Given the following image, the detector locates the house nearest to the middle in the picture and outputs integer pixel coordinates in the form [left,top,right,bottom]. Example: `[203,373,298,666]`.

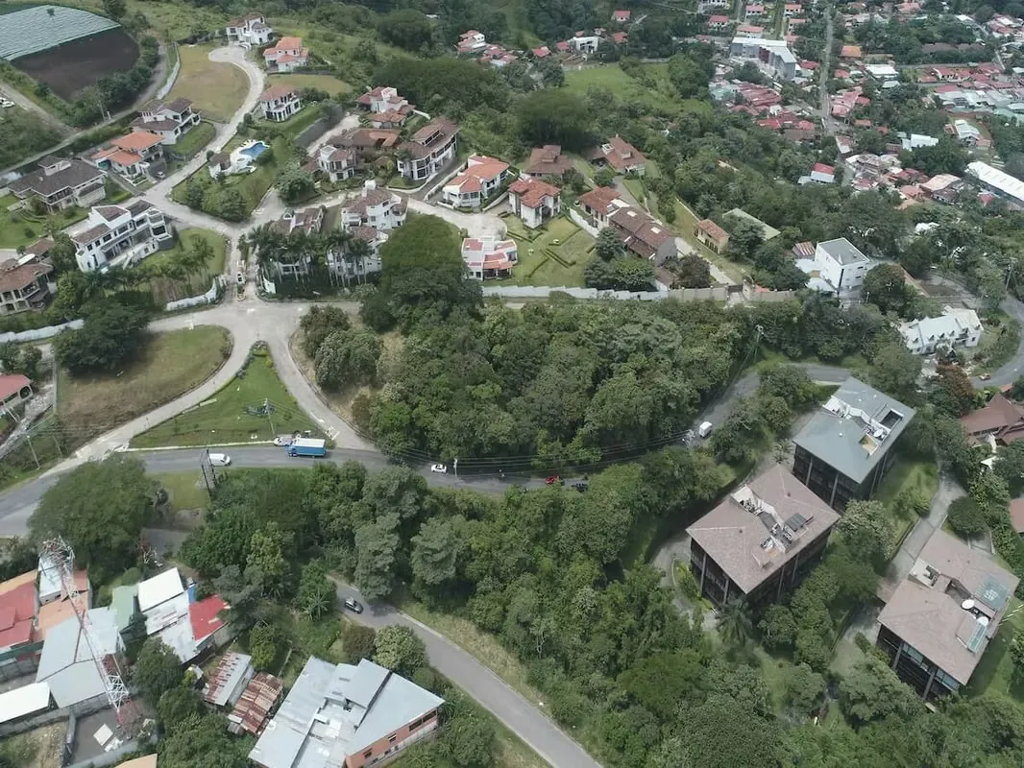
[465,236,516,279]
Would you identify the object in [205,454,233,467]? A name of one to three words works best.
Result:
vehicle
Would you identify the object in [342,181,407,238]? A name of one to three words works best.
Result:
house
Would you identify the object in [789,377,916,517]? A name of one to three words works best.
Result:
building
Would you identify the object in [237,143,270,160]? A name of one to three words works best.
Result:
swimming pool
